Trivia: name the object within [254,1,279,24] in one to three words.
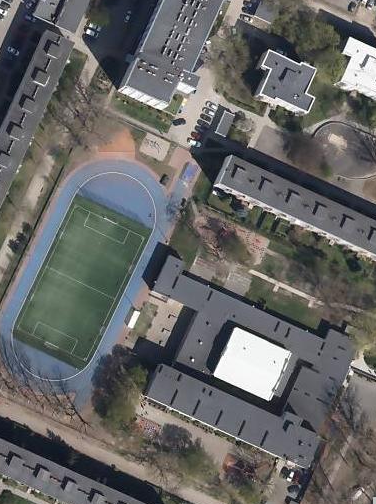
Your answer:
shed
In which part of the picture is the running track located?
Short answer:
left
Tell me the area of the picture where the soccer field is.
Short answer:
left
